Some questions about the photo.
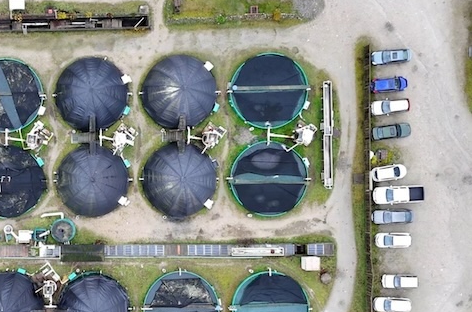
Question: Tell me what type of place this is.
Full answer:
The picture captures an industrial area.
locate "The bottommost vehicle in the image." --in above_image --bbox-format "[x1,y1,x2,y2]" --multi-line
[373,296,413,312]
